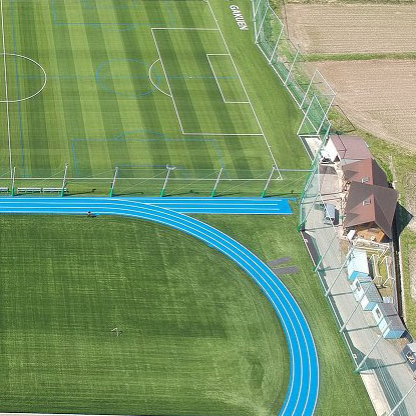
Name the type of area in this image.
sports ground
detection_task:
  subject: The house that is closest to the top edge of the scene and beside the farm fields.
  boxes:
[324,135,372,175]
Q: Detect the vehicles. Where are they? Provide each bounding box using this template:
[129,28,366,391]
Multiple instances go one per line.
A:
[317,150,331,168]
[324,205,340,225]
